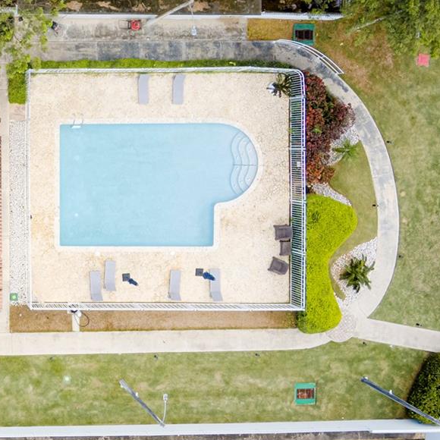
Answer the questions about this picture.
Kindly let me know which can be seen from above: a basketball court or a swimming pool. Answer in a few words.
swimming pool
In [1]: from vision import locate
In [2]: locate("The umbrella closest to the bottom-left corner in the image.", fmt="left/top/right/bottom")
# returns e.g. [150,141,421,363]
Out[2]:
[122,273,142,288]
